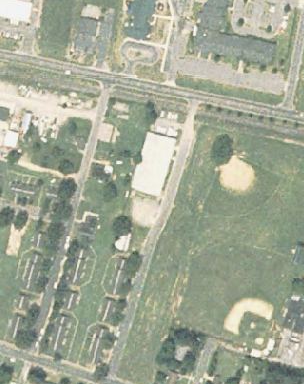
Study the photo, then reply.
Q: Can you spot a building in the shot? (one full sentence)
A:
Yes, the image includes a building.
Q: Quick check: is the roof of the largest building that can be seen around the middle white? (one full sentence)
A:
Yes, the roof of the largest building that can be seen around the middle is white.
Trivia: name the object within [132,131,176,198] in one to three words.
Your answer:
building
